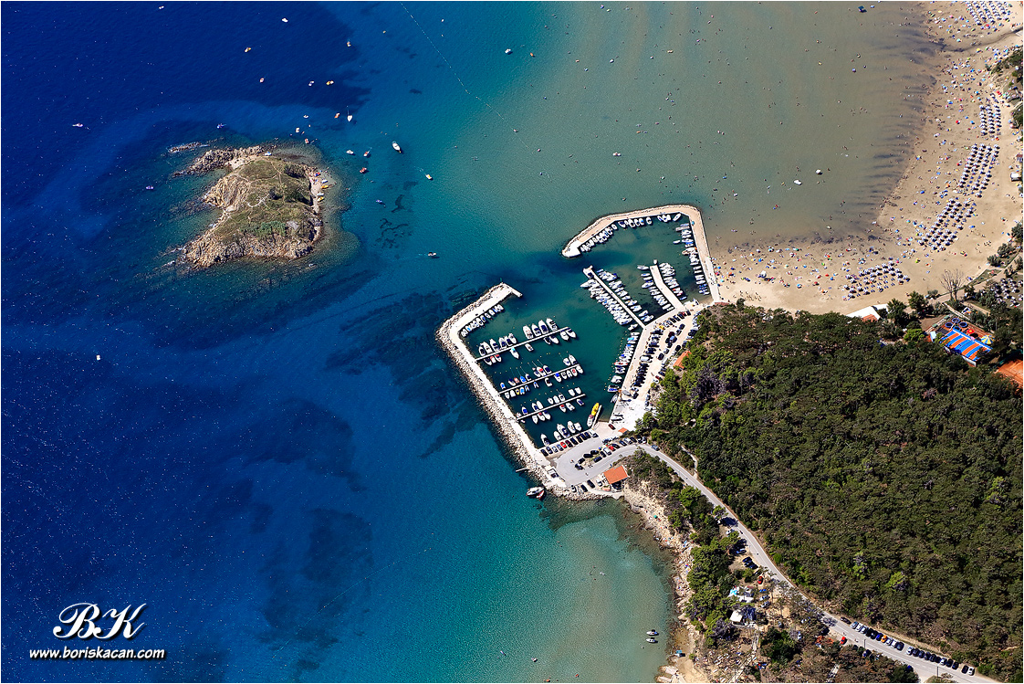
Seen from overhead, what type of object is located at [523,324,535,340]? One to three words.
boat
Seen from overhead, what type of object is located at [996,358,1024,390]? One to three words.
tennis court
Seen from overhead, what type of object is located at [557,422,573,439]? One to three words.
boat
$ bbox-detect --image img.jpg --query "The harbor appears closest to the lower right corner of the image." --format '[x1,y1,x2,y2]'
[535,303,713,498]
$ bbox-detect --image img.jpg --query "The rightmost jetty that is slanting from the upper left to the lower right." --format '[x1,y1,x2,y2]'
[650,265,684,310]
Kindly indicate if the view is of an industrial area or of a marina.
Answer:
marina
